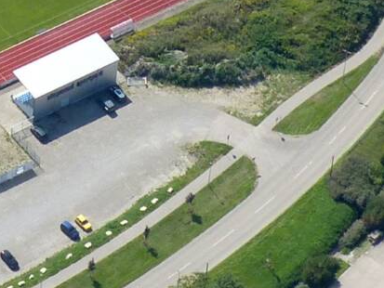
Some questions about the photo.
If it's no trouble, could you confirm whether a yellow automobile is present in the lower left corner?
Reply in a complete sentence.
Yes, there is a yellow automobile in the lower left corner.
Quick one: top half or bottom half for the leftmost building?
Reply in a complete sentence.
The top half of the photo is where the leftmost building is.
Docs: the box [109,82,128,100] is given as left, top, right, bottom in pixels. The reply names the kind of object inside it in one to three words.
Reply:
car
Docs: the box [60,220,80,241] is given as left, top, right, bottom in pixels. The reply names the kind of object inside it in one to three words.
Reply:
car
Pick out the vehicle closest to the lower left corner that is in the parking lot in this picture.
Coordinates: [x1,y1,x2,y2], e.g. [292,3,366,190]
[0,250,20,271]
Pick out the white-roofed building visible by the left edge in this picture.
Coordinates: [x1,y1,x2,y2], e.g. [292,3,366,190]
[8,34,117,119]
